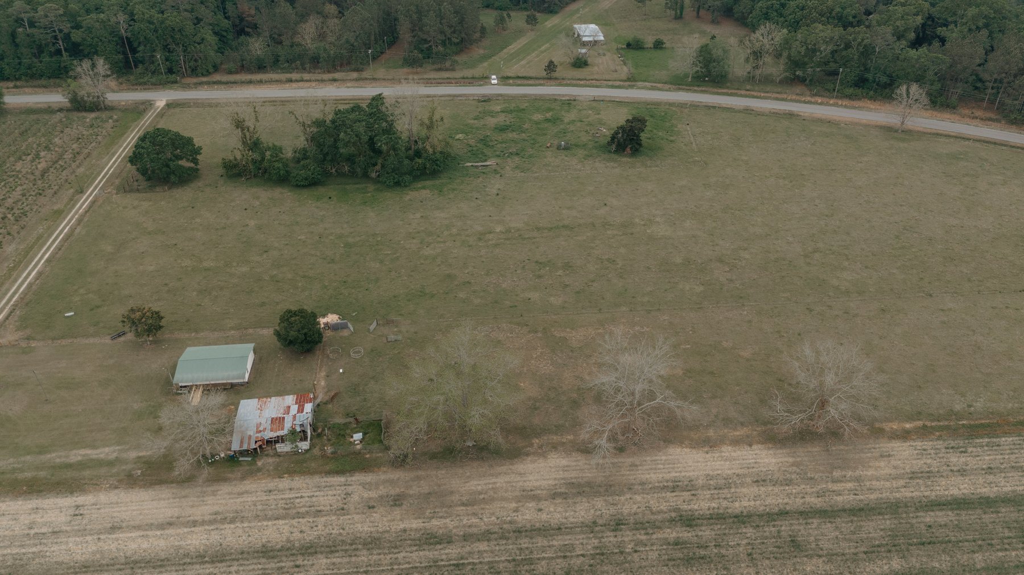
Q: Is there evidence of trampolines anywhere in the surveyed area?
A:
No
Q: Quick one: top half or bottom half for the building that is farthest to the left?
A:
bottom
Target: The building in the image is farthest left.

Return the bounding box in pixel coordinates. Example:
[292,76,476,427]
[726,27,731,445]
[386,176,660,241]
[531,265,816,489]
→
[171,344,258,412]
